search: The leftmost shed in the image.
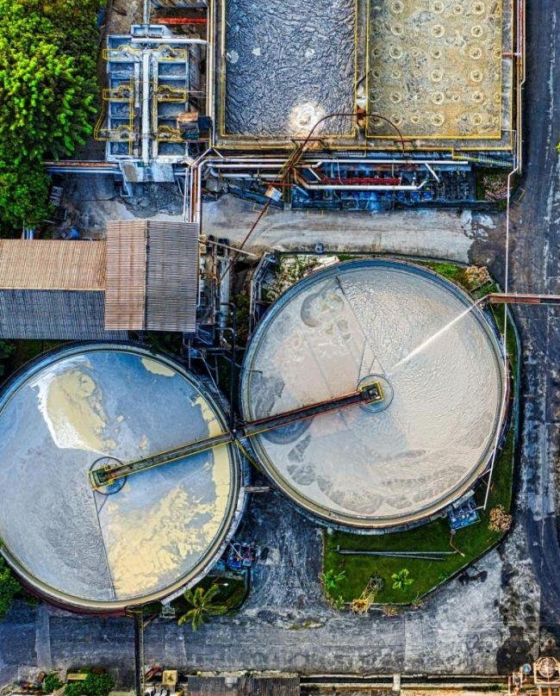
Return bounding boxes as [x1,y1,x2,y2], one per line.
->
[0,239,127,339]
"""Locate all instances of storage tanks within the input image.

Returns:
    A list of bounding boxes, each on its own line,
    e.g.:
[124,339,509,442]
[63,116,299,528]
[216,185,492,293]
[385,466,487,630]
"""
[242,261,508,528]
[0,341,256,613]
